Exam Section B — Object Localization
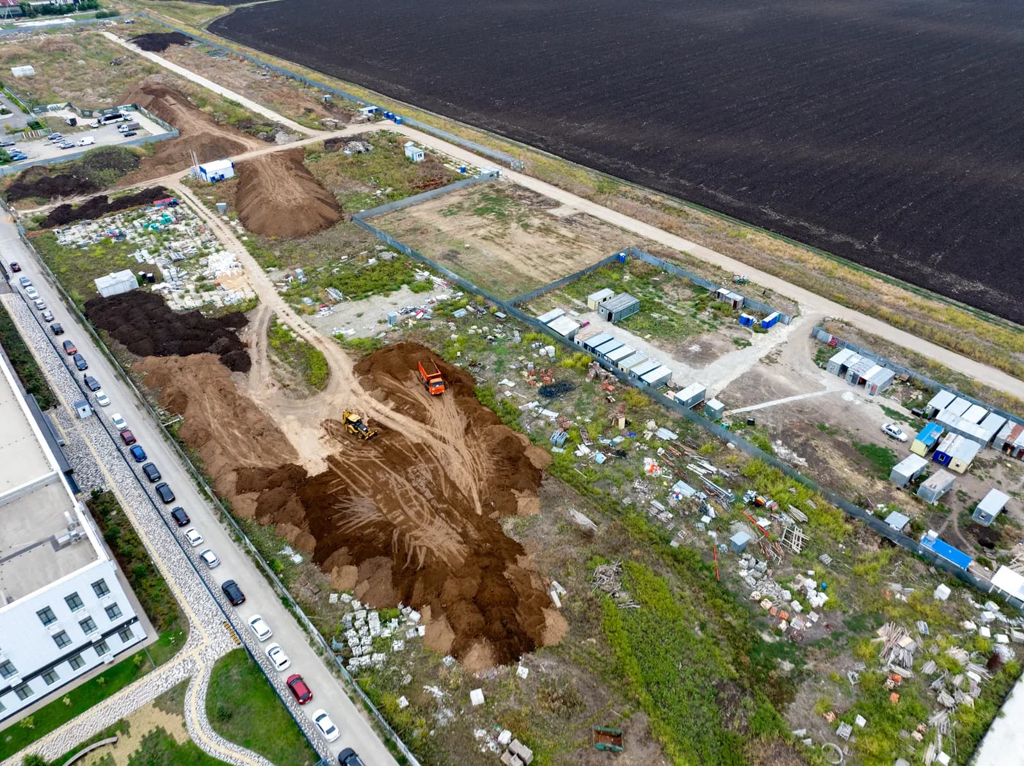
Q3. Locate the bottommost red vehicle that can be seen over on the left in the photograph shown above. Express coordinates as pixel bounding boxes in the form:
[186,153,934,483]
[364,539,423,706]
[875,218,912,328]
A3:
[286,675,312,705]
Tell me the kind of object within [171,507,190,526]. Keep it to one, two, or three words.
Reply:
car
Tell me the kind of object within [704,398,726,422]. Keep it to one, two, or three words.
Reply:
shed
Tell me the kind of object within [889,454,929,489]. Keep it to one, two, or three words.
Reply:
building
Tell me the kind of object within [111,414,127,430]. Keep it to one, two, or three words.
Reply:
car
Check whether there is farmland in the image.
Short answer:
Yes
